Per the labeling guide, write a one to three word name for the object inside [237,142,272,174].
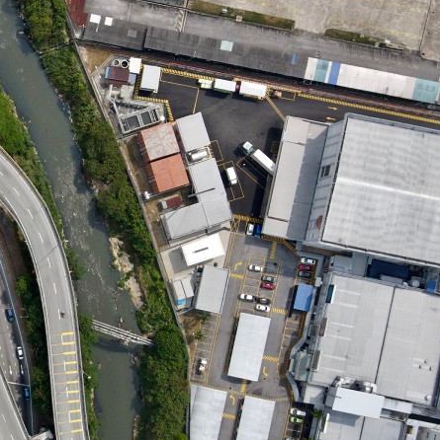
truck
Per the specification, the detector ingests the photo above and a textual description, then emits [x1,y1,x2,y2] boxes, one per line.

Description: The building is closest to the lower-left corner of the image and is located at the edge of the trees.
[171,276,193,300]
